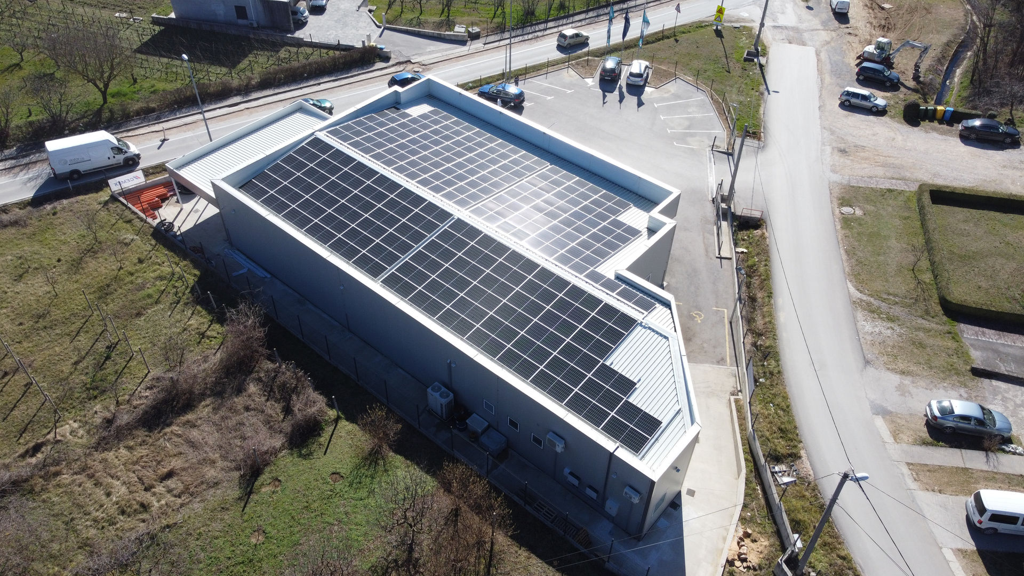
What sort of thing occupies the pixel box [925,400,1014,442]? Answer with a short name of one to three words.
car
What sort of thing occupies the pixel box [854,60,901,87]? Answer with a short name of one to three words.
car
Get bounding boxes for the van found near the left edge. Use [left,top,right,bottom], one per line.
[43,132,140,180]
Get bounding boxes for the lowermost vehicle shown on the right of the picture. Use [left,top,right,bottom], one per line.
[964,489,1024,536]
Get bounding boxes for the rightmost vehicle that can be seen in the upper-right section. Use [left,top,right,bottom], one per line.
[960,117,1022,143]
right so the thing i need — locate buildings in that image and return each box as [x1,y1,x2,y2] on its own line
[166,74,702,542]
[166,0,295,30]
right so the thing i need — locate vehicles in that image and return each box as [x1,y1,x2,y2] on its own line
[285,96,335,113]
[853,35,931,81]
[627,58,651,83]
[831,0,852,12]
[960,117,1022,143]
[291,4,313,25]
[838,85,889,113]
[964,489,1024,536]
[925,400,1014,442]
[379,66,423,89]
[43,132,140,180]
[601,54,625,79]
[477,82,528,108]
[555,27,592,48]
[854,60,901,87]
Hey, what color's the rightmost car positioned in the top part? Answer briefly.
black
